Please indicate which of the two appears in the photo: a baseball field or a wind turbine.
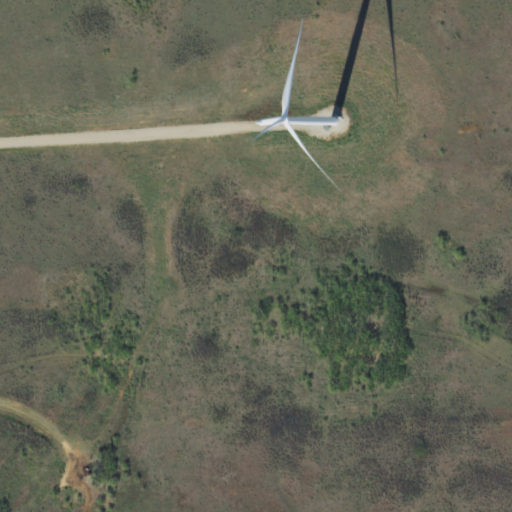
wind turbine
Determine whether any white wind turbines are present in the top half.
Yes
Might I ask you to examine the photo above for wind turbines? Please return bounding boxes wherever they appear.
[252,18,345,191]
